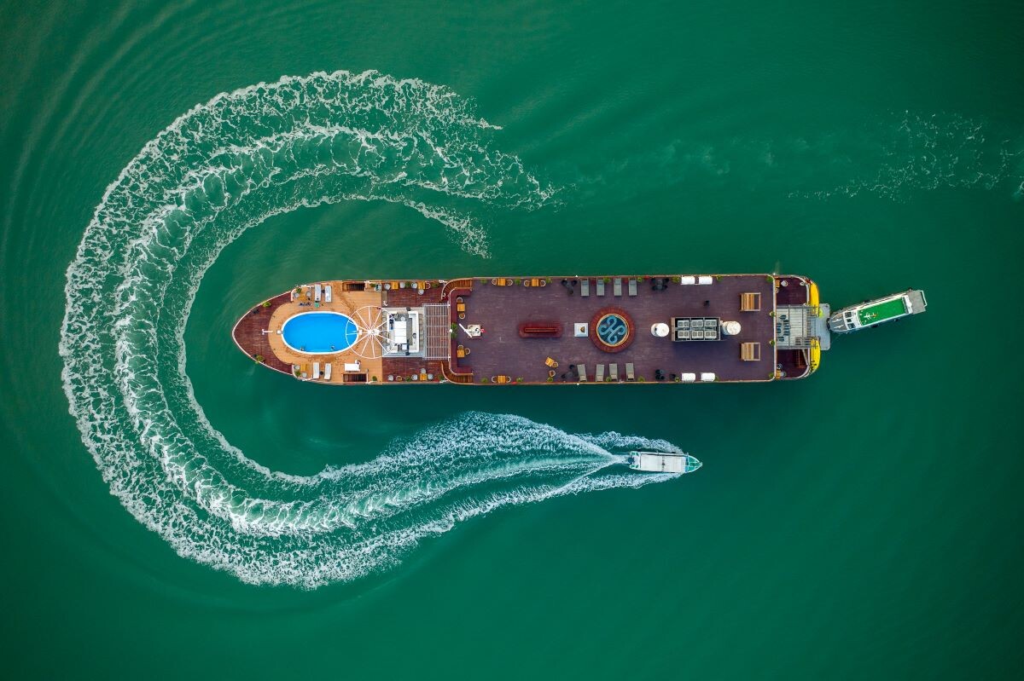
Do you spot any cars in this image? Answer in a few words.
No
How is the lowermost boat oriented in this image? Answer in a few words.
from side to side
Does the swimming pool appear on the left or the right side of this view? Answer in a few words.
left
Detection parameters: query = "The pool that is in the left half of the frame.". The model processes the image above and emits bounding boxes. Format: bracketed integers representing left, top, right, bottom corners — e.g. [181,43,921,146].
[276,311,362,354]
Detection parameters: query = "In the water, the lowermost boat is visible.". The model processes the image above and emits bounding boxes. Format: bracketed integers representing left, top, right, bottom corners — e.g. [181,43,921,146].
[627,449,702,474]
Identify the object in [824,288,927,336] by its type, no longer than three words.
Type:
boat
